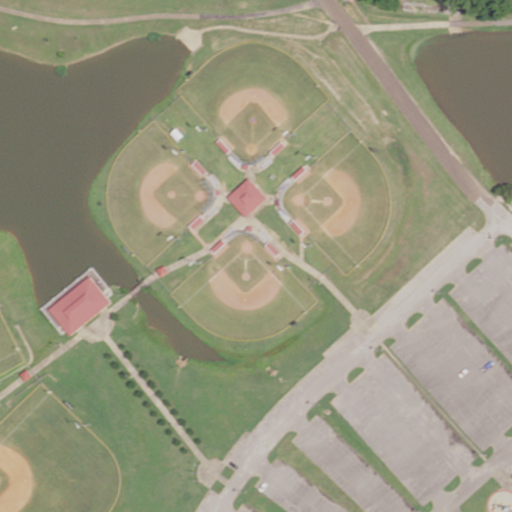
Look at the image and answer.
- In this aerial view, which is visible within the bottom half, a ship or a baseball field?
baseball field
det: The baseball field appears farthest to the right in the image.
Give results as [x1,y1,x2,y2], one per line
[282,132,388,274]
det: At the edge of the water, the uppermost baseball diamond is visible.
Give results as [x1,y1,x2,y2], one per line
[178,42,328,167]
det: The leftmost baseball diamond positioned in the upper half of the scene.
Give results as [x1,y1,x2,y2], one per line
[108,122,216,265]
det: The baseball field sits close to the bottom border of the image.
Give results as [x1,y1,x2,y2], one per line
[0,385,120,512]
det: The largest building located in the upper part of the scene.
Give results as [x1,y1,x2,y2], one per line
[227,178,265,218]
